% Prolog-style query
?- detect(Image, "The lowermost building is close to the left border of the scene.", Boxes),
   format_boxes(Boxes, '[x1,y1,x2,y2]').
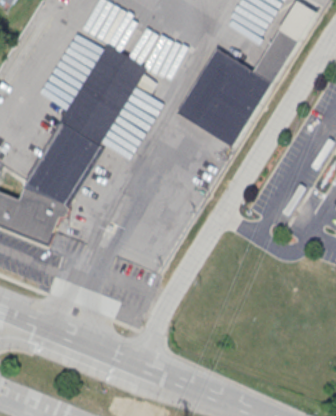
[0,188,70,245]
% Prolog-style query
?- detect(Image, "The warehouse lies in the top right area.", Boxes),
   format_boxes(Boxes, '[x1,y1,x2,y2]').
[178,1,320,147]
